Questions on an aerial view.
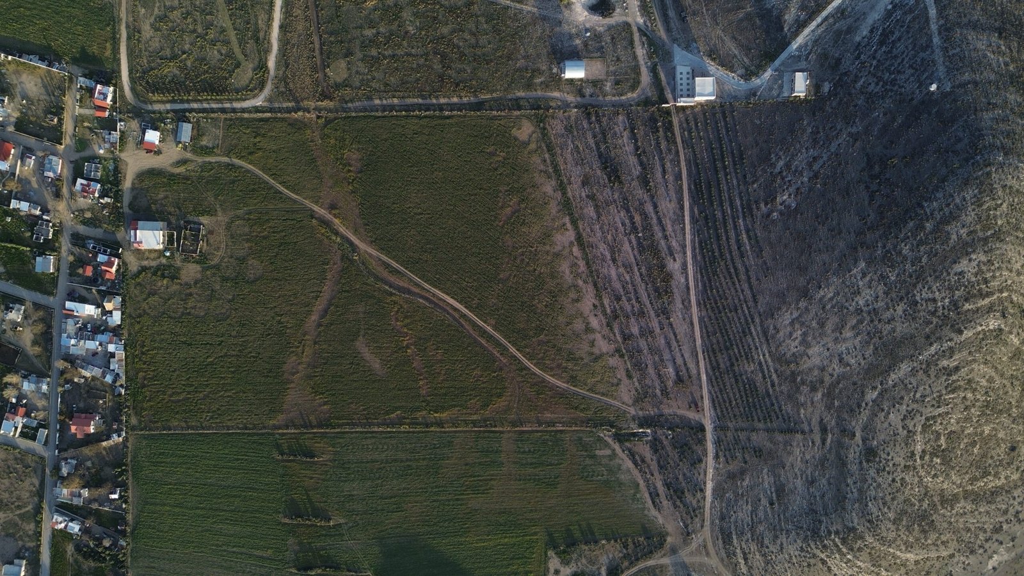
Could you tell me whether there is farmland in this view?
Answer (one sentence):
Yes, there is farmland in the image.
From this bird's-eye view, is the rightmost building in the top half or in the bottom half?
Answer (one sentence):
Seen from above, the rightmost building lies in the top half of the view.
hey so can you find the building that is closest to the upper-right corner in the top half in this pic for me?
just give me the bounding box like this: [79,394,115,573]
[781,73,808,95]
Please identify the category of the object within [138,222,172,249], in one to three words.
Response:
building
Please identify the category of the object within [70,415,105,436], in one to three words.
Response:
house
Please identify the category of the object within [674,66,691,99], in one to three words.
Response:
building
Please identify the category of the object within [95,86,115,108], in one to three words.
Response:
house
